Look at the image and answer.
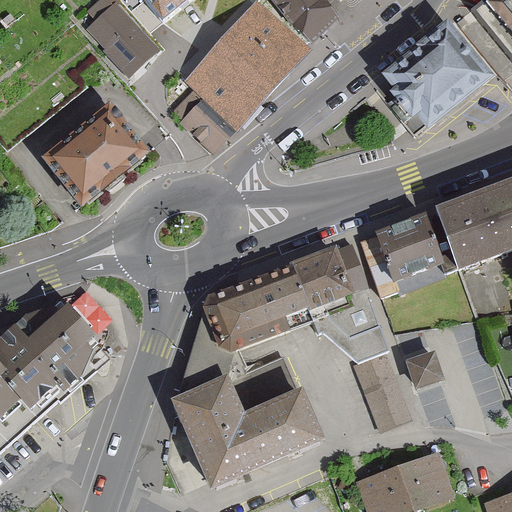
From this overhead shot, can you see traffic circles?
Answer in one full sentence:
Yes, you can see a traffic circle in this photo.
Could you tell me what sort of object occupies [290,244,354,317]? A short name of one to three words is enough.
house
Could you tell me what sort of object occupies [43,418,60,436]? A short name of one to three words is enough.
car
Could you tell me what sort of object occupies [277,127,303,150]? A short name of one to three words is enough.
vehicle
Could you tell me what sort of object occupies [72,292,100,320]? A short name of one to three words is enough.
umbrella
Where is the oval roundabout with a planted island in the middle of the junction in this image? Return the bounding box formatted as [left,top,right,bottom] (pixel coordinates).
[112,170,250,294]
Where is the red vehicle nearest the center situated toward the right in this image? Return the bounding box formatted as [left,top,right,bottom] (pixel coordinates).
[316,226,337,240]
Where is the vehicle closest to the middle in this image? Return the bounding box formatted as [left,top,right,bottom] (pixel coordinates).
[237,237,258,252]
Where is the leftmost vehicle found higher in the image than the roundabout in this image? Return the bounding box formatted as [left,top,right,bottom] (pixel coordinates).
[185,6,204,26]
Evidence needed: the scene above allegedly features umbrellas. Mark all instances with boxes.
[86,307,113,334]
[72,292,100,320]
